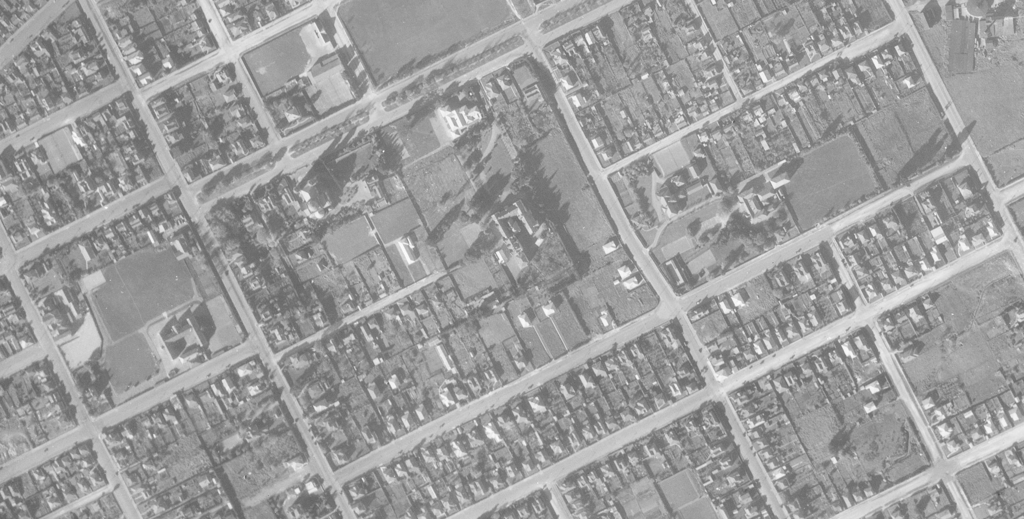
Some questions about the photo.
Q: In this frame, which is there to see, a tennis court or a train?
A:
tennis court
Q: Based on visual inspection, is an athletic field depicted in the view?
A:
Yes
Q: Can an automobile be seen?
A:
No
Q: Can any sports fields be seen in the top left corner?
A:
Yes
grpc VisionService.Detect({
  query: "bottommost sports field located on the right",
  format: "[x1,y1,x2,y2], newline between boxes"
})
[788,134,881,231]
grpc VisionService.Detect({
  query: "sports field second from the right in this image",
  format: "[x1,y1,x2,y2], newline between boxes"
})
[338,0,516,84]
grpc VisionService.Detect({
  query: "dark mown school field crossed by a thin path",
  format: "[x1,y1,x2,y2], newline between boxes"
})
[92,245,202,341]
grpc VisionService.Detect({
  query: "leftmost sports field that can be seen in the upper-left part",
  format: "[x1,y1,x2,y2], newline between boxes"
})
[242,30,310,96]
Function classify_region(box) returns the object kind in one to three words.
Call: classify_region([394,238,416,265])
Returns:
building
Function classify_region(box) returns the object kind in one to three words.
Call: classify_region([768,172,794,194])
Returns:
building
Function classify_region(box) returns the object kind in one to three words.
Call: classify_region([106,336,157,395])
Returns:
sports field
